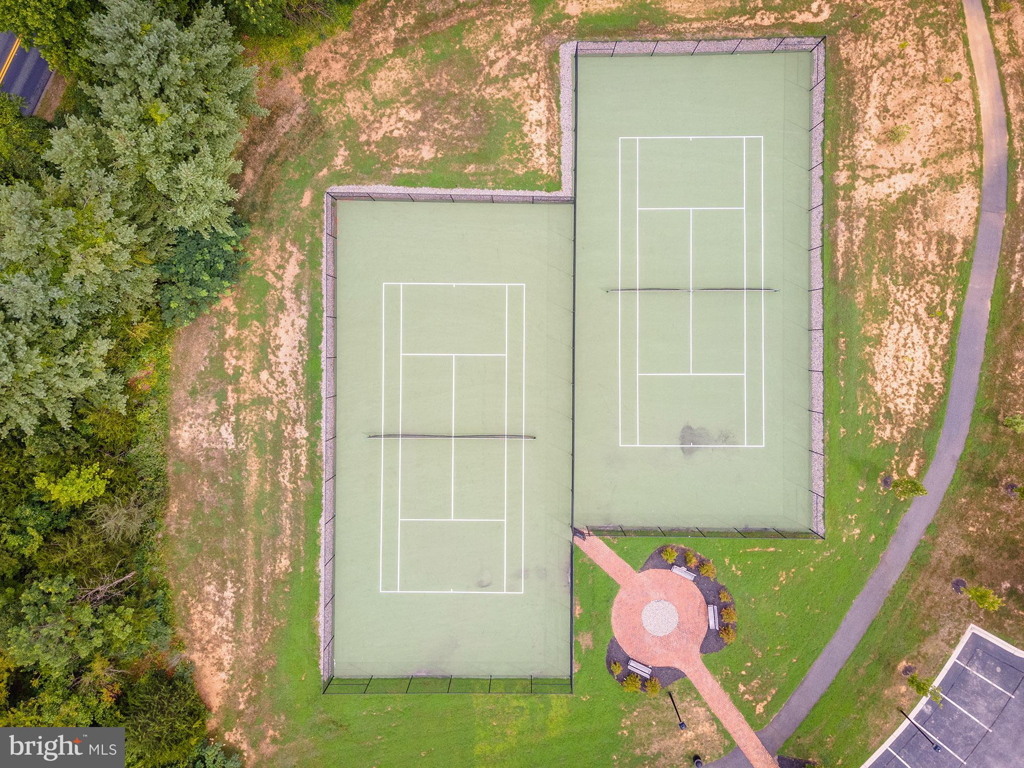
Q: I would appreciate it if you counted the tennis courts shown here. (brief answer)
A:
2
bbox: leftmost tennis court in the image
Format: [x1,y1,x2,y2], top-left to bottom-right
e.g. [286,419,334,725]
[333,200,573,678]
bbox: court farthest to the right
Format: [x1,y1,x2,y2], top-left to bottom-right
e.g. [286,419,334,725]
[570,49,813,532]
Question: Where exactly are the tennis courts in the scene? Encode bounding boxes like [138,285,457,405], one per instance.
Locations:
[570,49,813,532]
[333,200,573,678]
